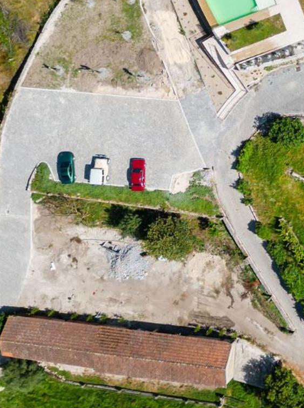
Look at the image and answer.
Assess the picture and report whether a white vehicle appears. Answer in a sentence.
Yes, looking at the shot, I can spot a white vehicle.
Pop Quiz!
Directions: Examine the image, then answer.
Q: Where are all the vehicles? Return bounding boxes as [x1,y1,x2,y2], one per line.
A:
[86,155,108,187]
[125,158,144,193]
[53,152,73,186]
